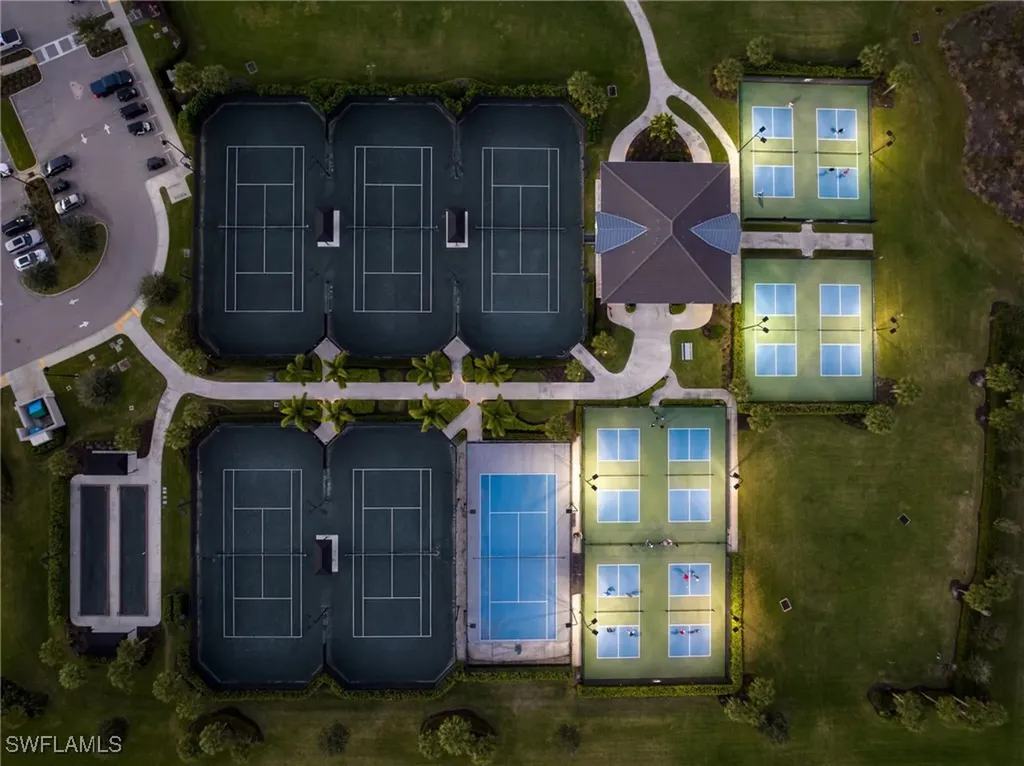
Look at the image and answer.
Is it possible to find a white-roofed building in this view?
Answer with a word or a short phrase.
No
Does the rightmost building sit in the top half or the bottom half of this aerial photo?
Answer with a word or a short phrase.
top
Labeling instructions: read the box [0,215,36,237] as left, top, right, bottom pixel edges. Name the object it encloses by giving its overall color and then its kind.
black car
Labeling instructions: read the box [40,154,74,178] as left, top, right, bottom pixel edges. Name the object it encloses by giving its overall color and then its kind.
black car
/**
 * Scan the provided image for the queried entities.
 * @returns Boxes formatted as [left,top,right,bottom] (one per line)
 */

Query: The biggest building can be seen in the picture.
[595,161,740,305]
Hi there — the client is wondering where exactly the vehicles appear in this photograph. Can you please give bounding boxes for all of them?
[0,30,18,53]
[114,85,140,104]
[117,101,150,122]
[49,177,73,195]
[89,71,135,98]
[144,155,169,172]
[126,120,154,138]
[0,215,36,237]
[12,248,50,270]
[40,154,74,178]
[3,231,44,254]
[55,193,87,215]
